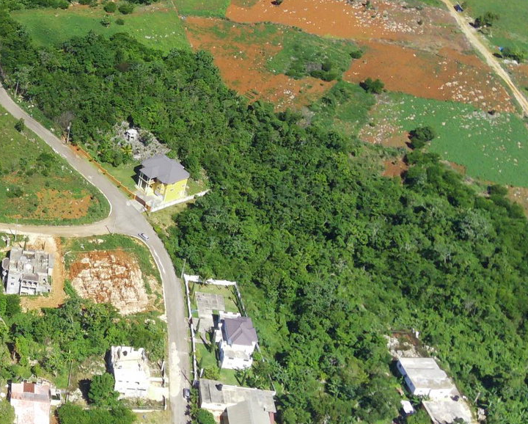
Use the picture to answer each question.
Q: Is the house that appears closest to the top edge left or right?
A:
left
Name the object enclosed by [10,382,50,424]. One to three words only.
house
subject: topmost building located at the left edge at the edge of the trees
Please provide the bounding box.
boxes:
[2,249,54,298]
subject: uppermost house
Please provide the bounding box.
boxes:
[137,156,190,196]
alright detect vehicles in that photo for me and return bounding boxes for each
[139,231,152,241]
[455,6,464,11]
[183,384,191,400]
